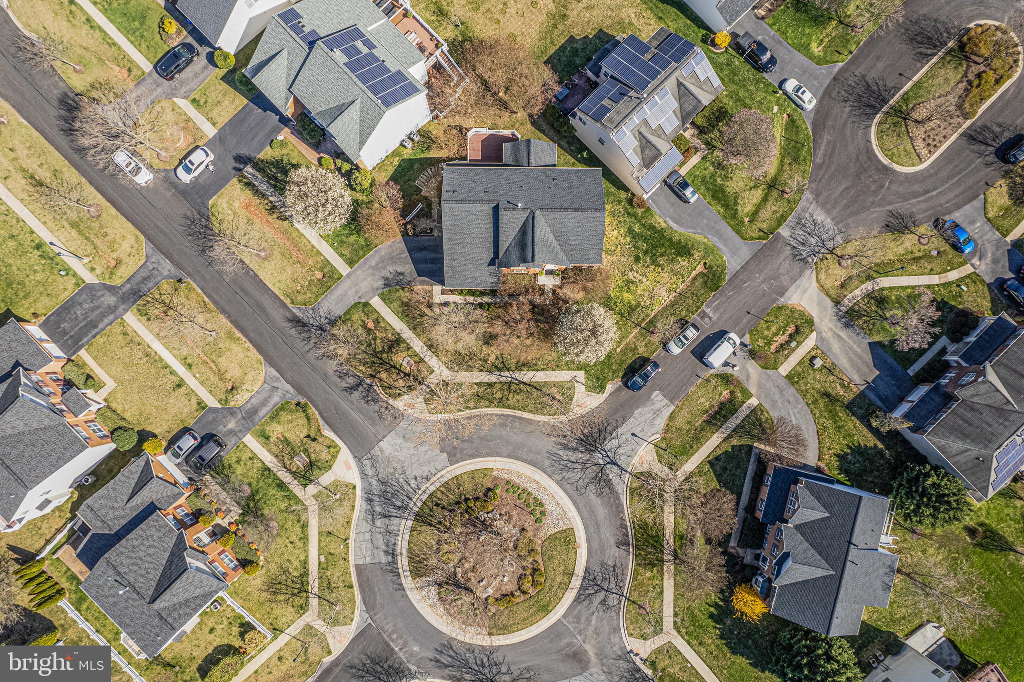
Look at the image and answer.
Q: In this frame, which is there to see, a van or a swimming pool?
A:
van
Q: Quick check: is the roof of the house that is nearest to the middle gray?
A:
Yes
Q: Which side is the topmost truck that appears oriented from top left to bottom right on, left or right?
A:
right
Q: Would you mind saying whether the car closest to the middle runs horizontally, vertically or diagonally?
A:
diagonally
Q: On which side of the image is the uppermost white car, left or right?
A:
right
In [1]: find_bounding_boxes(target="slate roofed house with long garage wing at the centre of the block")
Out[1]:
[440,139,606,290]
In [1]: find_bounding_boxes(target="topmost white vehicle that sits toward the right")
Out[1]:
[777,76,820,115]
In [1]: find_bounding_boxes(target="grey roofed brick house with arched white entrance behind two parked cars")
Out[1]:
[77,452,244,661]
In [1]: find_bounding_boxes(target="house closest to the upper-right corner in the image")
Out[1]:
[684,0,757,34]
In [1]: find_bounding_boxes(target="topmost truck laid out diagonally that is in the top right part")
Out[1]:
[731,26,778,77]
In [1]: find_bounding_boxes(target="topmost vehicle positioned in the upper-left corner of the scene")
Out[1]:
[150,43,201,82]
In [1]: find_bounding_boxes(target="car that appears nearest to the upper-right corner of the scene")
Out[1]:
[1001,139,1024,166]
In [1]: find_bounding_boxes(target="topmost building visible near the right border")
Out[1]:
[889,311,1024,503]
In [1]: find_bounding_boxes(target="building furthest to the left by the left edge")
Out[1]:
[0,318,113,538]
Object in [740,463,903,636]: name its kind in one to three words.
house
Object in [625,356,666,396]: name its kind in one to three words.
car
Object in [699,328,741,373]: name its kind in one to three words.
van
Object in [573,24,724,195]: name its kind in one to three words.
house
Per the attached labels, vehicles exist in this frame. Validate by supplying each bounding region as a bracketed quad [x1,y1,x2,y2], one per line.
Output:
[997,275,1024,316]
[625,356,666,396]
[699,328,741,373]
[1001,139,1024,166]
[731,26,778,77]
[165,428,203,465]
[777,76,820,115]
[110,149,155,187]
[189,435,227,473]
[662,169,703,208]
[150,43,201,82]
[176,145,215,183]
[663,318,704,358]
